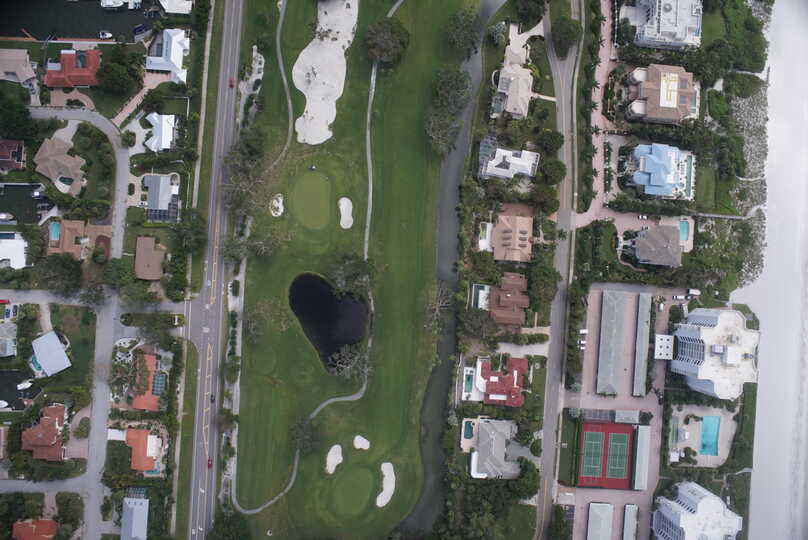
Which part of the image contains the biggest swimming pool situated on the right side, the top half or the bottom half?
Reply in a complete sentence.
You can find the biggest swimming pool situated on the right side in the bottom half.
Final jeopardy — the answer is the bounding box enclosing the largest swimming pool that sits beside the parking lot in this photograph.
[669,405,737,467]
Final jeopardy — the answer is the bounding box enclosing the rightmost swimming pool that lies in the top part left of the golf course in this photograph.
[148,33,163,57]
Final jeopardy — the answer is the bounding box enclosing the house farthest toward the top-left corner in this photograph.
[0,49,38,82]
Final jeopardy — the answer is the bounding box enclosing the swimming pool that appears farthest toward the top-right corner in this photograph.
[680,81,700,122]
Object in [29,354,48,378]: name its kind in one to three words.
swimming pool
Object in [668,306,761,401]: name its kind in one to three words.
building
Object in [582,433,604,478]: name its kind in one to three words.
tennis court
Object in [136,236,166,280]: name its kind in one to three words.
house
